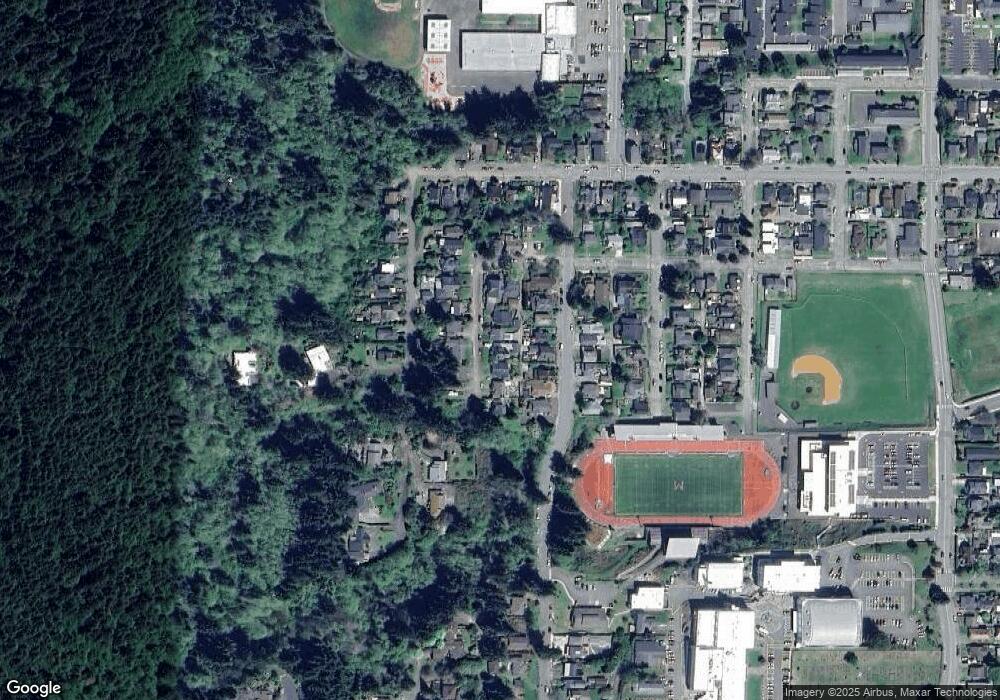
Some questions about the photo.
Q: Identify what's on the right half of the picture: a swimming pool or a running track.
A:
running track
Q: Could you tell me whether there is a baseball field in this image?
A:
Yes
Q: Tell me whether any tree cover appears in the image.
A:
Yes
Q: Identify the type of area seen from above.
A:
residential area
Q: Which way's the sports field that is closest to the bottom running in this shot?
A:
from side to side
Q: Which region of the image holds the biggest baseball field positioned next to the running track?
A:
right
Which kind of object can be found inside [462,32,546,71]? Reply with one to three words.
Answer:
building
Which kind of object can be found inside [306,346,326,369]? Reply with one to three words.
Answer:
house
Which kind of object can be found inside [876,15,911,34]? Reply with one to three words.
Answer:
building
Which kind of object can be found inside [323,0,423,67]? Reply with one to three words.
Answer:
baseball field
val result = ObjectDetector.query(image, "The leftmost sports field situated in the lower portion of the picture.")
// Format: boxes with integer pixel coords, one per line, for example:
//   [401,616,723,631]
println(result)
[614,450,744,517]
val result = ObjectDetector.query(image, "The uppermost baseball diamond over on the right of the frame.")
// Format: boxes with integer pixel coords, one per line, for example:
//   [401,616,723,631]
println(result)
[758,272,936,430]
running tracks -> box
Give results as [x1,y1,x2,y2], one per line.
[575,438,781,528]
